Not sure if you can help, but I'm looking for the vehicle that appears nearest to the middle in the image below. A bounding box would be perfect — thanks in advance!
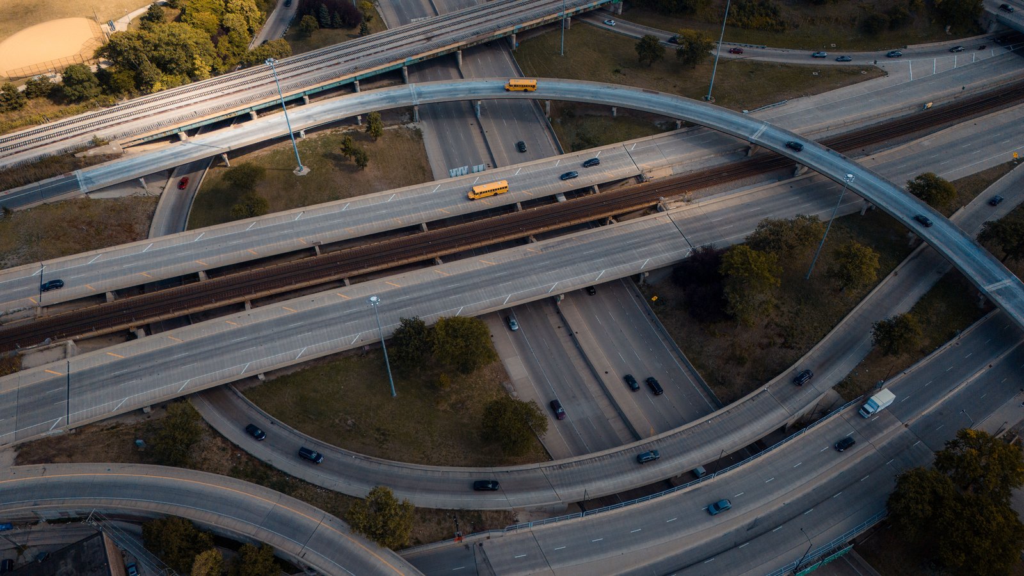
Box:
[505,314,518,331]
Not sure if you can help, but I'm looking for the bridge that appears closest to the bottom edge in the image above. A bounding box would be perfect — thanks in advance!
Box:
[0,467,426,576]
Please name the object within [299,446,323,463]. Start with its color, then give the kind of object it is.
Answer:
black car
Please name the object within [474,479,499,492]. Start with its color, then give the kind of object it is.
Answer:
black vehicle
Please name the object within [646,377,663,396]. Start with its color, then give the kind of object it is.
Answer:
black car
